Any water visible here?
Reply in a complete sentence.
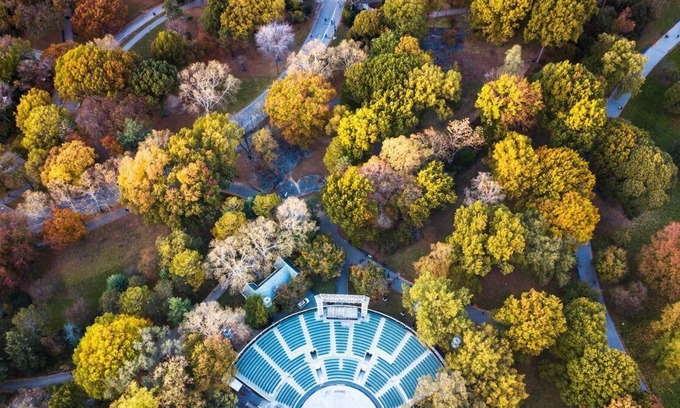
No, the scene doesn't show any water.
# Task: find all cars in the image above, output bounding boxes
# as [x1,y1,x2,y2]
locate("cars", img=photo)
[296,296,311,309]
